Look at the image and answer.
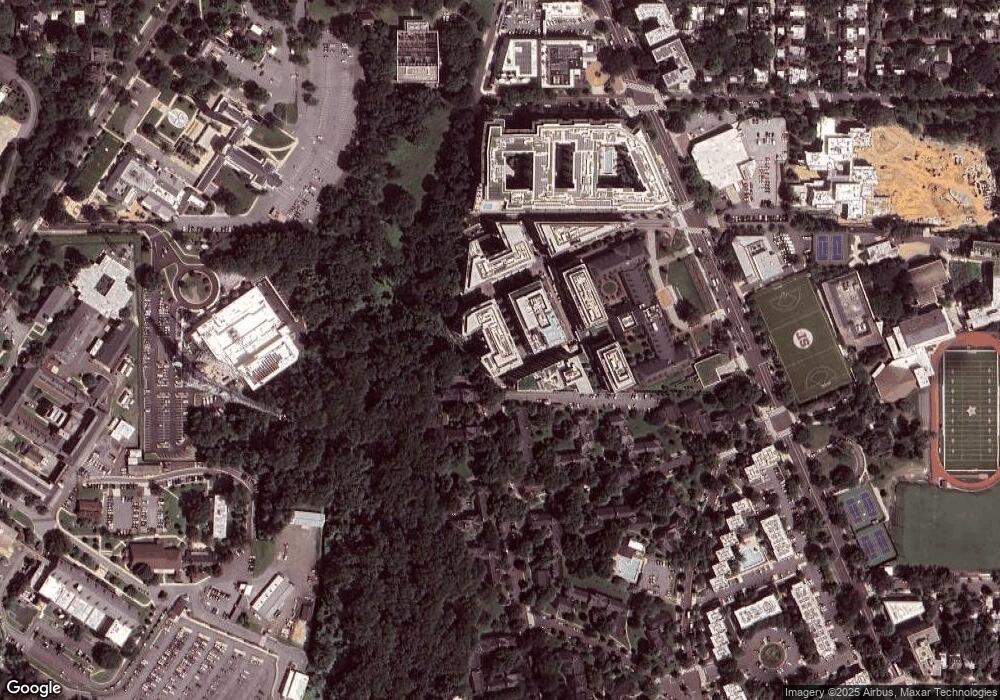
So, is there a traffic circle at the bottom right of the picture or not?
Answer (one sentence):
Yes, a traffic circle can be seen at the bottom right of the picture.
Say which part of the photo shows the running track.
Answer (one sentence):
You can find the running track in the right area of the picture.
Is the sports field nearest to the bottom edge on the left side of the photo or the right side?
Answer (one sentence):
It is on the right.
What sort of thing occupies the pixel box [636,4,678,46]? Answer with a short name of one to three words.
building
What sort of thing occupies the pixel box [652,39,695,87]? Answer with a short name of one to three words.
building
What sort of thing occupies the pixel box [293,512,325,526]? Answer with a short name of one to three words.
shed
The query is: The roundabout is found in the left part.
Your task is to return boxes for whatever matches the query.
[170,262,221,312]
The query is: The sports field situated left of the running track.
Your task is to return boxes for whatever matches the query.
[756,277,852,403]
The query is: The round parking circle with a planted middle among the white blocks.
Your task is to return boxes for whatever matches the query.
[744,626,802,684]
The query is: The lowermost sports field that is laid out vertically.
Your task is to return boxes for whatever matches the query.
[938,349,1000,480]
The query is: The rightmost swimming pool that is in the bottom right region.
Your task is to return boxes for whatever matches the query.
[738,538,770,574]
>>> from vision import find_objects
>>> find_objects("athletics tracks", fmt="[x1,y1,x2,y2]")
[931,331,1000,488]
